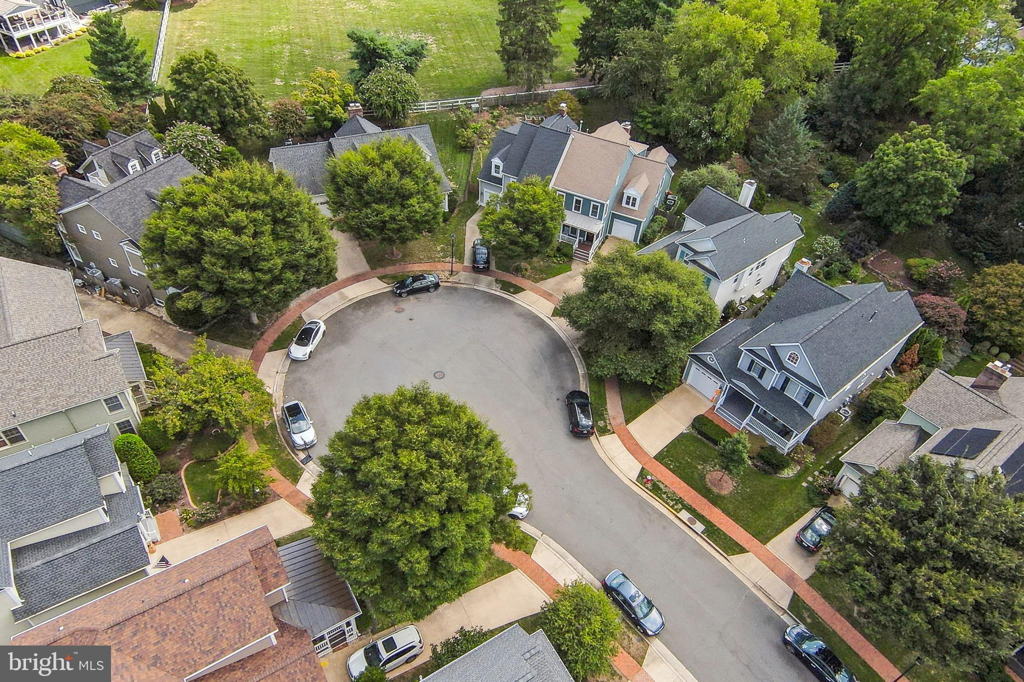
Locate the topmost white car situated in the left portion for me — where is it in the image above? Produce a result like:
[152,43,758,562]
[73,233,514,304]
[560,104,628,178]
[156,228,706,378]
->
[289,320,325,361]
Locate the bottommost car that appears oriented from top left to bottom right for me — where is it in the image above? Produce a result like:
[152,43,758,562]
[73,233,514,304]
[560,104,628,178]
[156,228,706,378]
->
[779,623,857,682]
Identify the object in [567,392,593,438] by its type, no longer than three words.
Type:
car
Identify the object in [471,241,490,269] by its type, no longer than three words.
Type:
car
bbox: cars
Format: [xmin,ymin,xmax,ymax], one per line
[283,399,318,451]
[392,277,442,300]
[346,620,426,671]
[471,241,490,269]
[567,392,593,438]
[289,320,325,361]
[779,623,857,682]
[794,505,840,556]
[601,569,666,638]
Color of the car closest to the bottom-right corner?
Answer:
black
